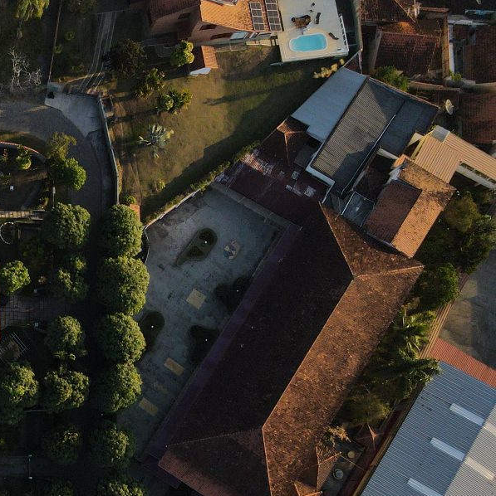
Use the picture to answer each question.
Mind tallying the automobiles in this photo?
0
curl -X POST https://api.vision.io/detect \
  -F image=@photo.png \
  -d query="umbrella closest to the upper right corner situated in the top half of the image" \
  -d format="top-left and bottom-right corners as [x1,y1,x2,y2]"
[299,9,316,23]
